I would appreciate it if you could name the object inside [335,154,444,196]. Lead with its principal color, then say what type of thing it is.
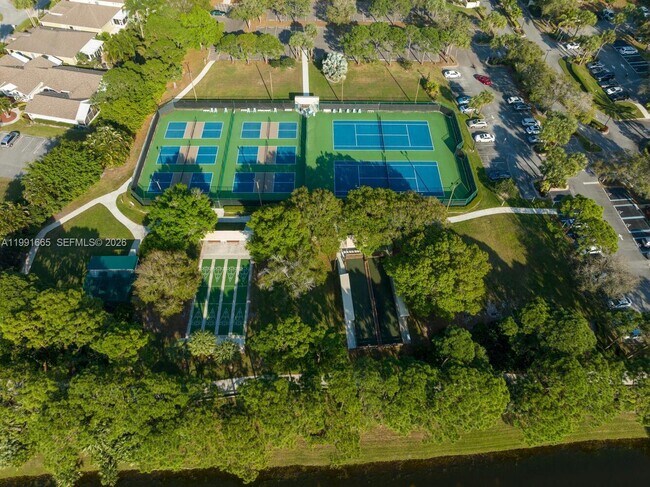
blue tennis court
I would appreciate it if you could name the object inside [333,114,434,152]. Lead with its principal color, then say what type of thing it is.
blue tennis court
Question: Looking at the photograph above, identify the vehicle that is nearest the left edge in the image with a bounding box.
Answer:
[3,131,20,146]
